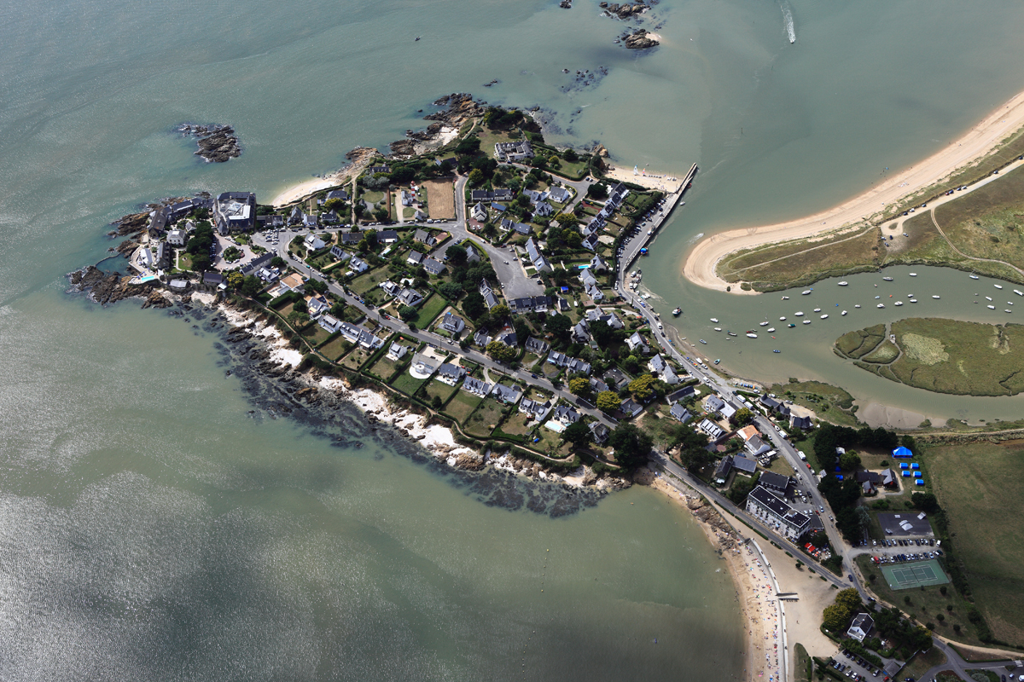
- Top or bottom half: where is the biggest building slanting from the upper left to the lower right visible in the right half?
bottom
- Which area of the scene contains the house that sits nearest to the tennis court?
bottom right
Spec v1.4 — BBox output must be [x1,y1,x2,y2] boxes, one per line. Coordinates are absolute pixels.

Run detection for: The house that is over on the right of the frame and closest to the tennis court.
[844,615,874,644]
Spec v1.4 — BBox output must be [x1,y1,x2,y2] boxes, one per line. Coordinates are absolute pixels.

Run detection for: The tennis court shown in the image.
[881,555,950,591]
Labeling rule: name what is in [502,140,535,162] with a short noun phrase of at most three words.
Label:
shed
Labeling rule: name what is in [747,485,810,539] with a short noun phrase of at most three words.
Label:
building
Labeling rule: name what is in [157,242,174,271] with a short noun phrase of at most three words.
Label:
house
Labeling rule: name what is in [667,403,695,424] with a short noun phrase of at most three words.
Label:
shed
